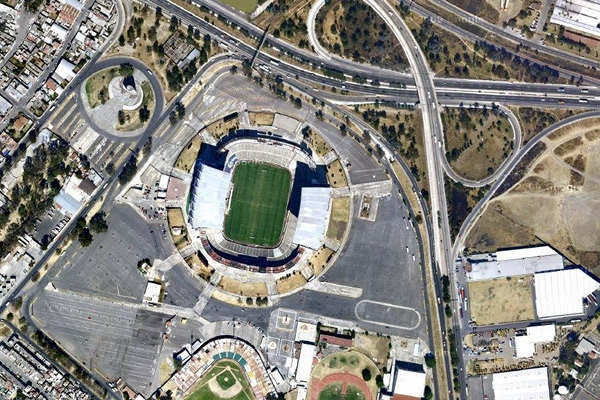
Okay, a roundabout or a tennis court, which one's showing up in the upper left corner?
roundabout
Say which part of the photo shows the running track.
bottom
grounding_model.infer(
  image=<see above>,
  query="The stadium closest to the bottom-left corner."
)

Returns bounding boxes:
[148,336,279,400]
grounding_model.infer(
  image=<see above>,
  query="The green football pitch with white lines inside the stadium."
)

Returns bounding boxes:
[223,158,294,251]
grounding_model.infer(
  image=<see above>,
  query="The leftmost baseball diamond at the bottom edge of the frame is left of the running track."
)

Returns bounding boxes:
[183,360,257,400]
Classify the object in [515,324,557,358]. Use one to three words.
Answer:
building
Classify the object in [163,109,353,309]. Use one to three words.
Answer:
stadium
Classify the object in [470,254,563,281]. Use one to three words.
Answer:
building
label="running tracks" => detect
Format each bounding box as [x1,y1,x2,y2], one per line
[309,347,384,400]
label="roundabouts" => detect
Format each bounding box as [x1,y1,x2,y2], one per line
[77,54,165,141]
